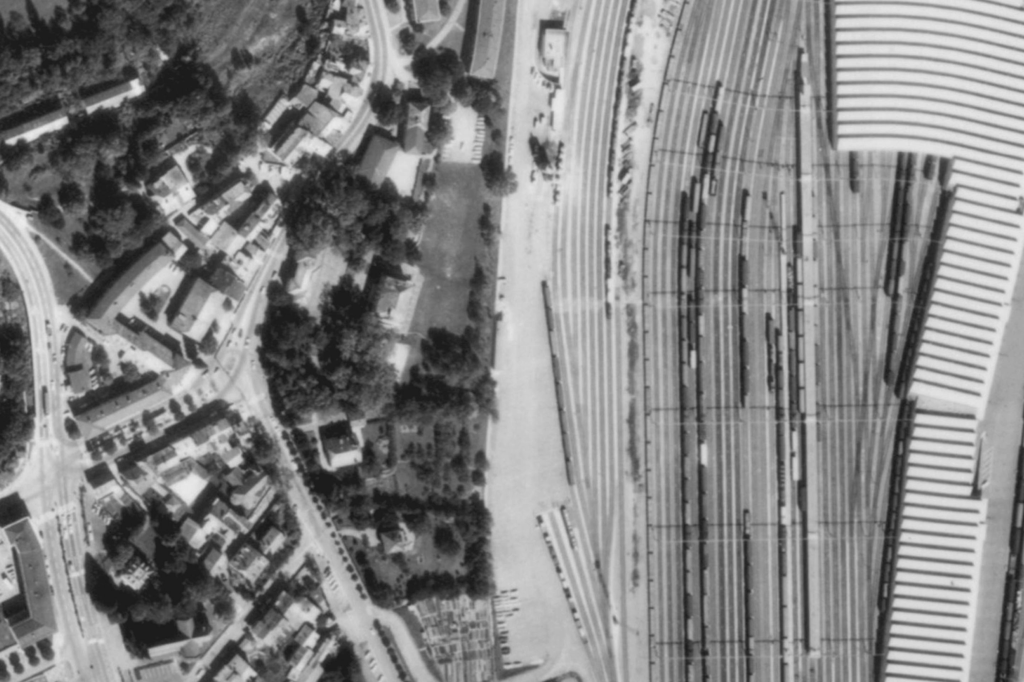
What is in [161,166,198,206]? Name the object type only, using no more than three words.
house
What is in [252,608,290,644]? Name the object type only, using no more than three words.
house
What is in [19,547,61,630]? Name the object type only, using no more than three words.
building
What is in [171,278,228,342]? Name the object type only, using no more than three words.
building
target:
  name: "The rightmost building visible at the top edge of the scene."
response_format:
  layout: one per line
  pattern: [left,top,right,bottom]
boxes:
[838,0,1024,172]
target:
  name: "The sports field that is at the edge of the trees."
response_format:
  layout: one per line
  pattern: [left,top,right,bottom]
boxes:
[409,162,483,339]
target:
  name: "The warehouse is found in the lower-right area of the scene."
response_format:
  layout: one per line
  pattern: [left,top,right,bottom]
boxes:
[877,409,988,682]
